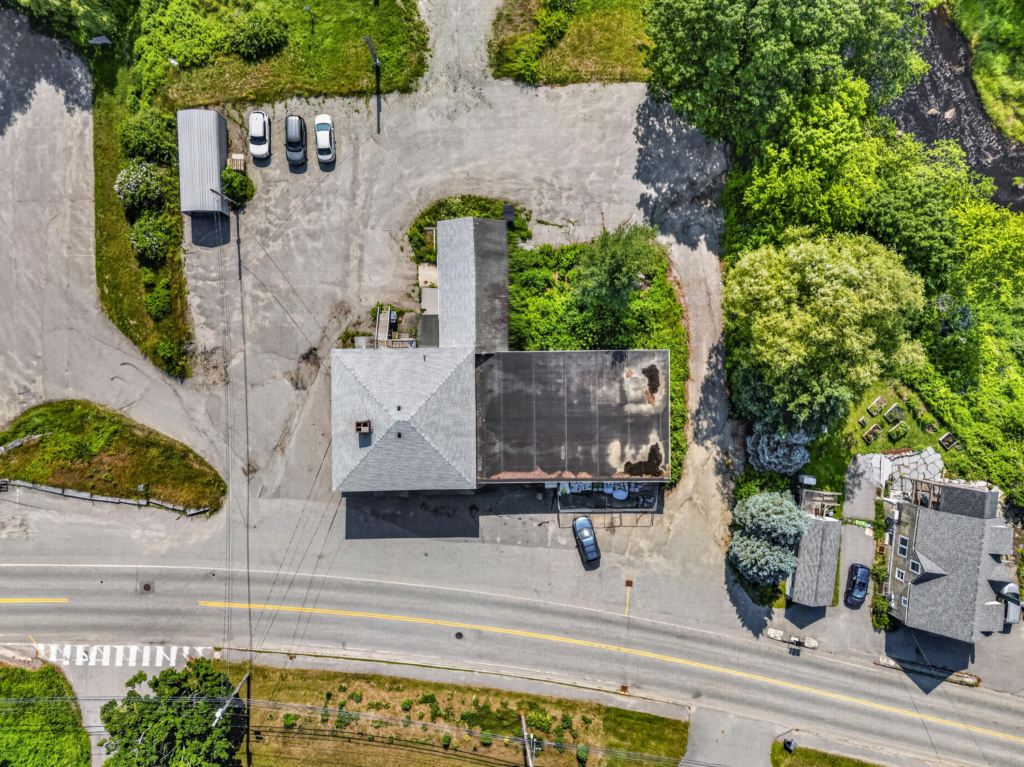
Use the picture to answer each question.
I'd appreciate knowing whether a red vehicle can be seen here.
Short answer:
No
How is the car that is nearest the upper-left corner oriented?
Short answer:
from top to bottom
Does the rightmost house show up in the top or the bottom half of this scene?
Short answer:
bottom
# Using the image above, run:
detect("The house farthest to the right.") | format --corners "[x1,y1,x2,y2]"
[887,485,1018,644]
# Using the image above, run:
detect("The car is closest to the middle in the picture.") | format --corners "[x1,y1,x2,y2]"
[572,514,601,564]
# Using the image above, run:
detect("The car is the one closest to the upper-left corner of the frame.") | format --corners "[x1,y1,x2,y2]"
[248,111,273,160]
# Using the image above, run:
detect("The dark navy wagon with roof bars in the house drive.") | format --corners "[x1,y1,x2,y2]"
[842,560,871,608]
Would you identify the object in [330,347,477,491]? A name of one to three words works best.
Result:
building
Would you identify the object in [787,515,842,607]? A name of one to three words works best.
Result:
building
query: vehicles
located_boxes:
[312,115,336,163]
[572,514,601,564]
[842,560,871,608]
[998,583,1024,630]
[284,116,309,166]
[248,111,273,160]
